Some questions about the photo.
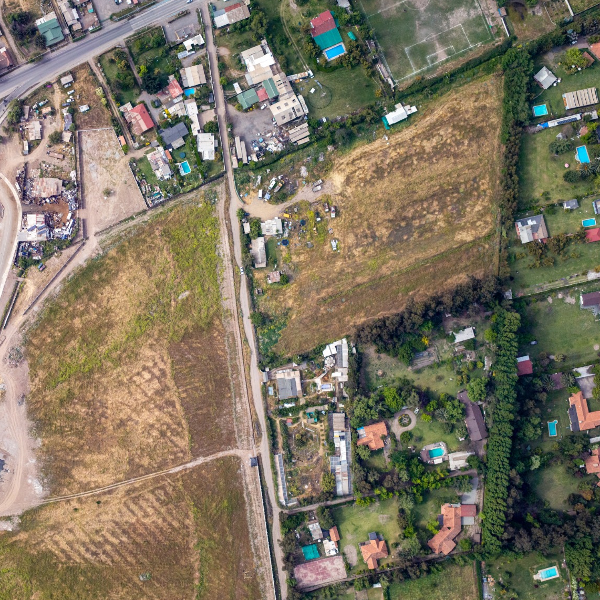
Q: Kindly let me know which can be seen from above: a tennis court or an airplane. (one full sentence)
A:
Visible in the photo is a tennis court.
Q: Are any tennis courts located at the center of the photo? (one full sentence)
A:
No, there is no tennis court at the center of the photo.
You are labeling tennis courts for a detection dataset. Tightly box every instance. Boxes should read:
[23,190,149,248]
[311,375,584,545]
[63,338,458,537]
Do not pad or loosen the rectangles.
[293,556,347,591]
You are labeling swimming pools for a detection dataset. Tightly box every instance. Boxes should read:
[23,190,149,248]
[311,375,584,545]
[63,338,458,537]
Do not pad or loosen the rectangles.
[538,565,560,581]
[581,218,597,227]
[179,158,192,177]
[533,104,547,117]
[184,87,195,97]
[423,442,449,463]
[323,42,347,62]
[319,382,334,392]
[549,417,558,436]
[572,146,589,164]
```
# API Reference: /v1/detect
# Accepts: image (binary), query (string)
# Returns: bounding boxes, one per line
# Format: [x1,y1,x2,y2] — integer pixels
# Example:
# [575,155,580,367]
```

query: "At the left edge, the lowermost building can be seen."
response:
[18,214,48,242]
